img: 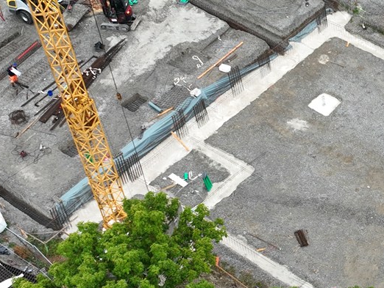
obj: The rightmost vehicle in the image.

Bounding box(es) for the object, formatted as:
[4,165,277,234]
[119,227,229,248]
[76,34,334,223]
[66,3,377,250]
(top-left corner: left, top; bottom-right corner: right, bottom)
[98,0,144,31]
